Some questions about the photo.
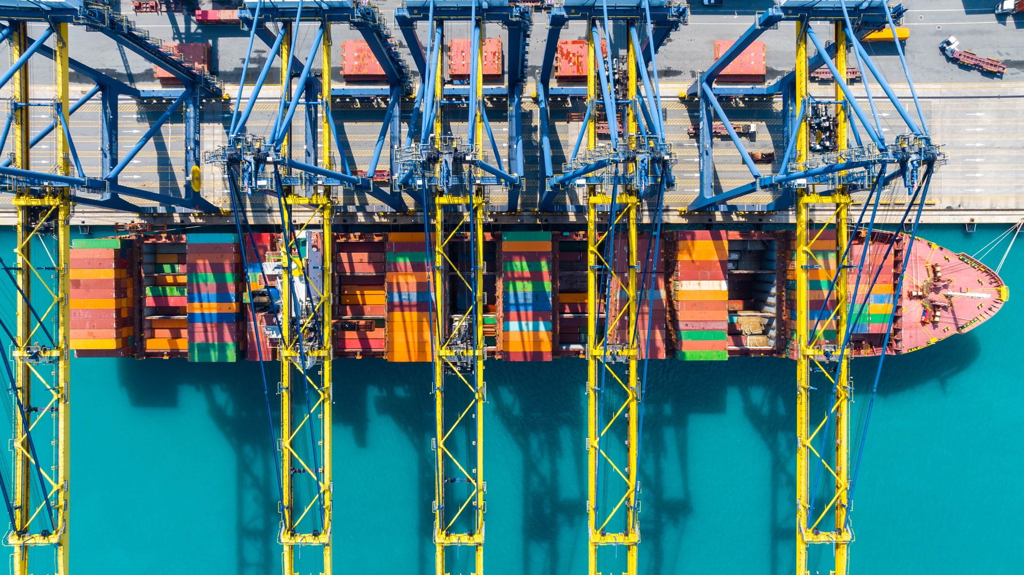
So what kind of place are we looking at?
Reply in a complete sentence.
What you see here is a port.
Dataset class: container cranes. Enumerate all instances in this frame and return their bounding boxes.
[383,0,530,575]
[0,0,231,575]
[216,0,419,575]
[531,0,689,575]
[678,0,945,575]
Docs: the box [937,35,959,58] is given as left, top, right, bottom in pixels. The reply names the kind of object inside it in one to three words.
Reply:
truck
